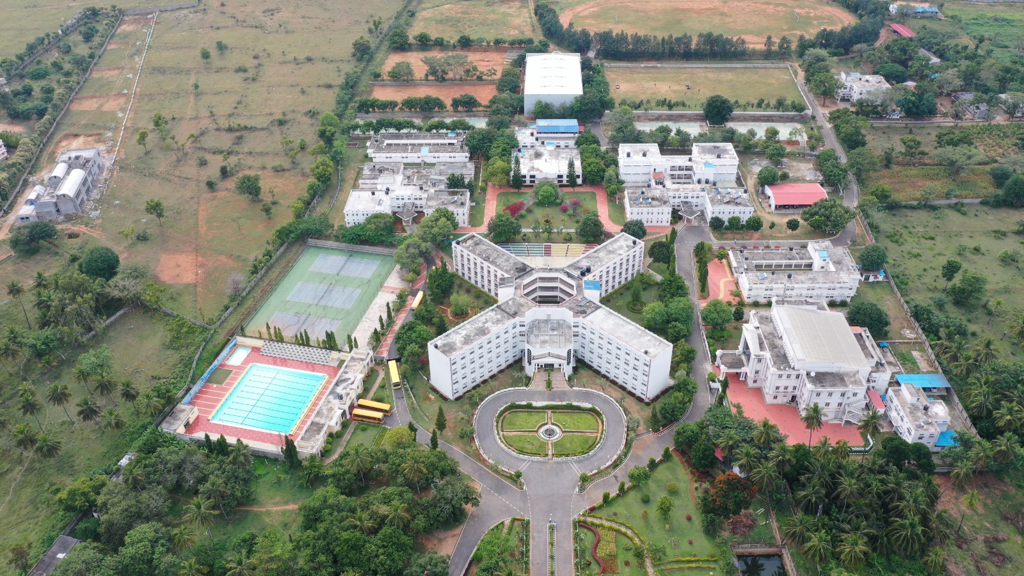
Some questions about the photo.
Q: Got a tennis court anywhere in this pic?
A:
Yes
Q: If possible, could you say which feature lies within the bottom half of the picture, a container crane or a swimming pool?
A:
swimming pool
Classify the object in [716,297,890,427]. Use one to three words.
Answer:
building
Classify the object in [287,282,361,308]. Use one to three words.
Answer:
tennis court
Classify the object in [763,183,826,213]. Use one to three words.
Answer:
shed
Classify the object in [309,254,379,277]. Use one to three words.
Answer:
tennis court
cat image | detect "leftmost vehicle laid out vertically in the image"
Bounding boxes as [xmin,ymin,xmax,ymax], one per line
[388,363,402,392]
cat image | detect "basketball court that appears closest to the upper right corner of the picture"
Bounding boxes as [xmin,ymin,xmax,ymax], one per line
[727,123,807,139]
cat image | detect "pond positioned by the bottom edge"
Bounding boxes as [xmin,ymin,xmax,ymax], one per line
[730,542,799,576]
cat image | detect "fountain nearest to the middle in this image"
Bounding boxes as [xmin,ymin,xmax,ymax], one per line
[539,423,562,440]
